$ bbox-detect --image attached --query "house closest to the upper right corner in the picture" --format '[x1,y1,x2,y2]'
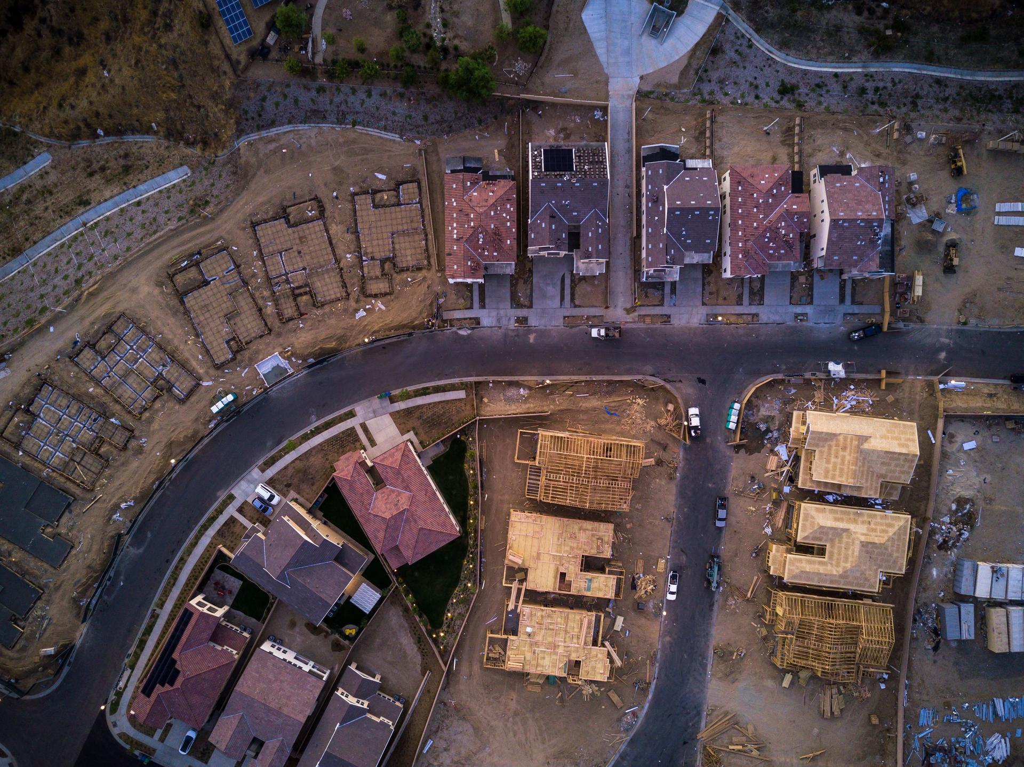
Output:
[811,164,895,279]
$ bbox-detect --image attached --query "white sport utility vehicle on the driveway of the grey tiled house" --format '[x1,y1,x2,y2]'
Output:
[254,482,280,506]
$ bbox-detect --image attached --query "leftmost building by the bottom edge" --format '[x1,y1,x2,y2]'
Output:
[130,593,255,730]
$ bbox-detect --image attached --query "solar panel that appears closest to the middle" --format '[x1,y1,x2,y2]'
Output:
[543,148,574,170]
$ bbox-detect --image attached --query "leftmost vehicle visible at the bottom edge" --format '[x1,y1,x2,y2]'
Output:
[176,731,196,759]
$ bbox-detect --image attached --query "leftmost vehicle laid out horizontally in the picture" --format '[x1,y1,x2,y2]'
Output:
[591,326,623,341]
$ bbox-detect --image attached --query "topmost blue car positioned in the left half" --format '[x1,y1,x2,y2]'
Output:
[249,497,273,517]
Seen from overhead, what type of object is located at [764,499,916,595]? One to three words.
house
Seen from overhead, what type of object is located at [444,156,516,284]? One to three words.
house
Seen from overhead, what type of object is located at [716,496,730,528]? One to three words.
vehicle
